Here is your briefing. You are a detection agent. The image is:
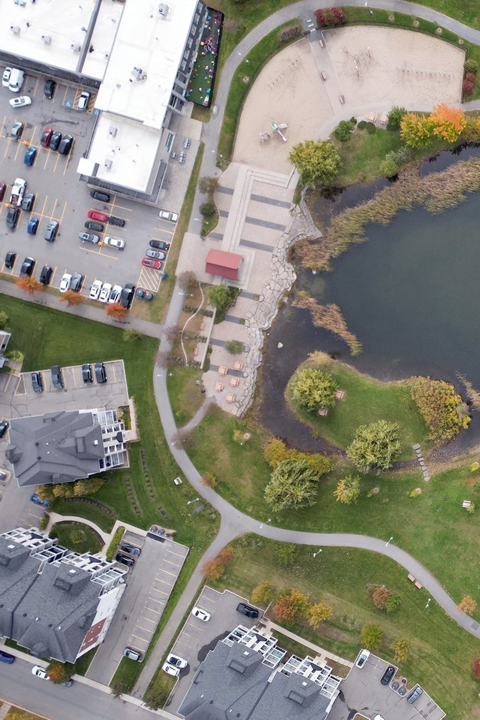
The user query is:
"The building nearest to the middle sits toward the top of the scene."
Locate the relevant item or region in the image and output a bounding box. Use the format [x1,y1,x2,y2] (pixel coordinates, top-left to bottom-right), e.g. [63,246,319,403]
[199,248,239,276]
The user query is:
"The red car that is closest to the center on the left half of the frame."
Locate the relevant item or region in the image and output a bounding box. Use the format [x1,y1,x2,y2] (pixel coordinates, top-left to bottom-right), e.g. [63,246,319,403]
[140,257,162,270]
